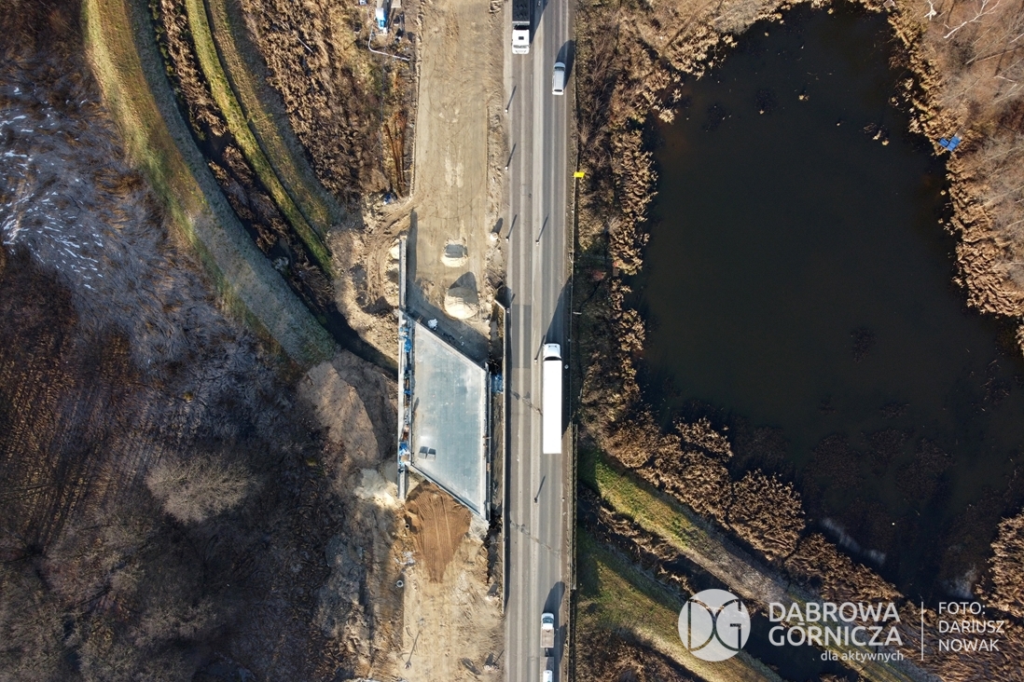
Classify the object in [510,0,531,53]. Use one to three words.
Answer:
truck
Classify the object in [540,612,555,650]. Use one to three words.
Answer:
vehicle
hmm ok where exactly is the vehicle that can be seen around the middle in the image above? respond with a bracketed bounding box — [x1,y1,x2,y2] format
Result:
[543,342,561,460]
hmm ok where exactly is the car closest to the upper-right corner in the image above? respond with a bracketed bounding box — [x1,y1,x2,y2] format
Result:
[552,63,566,95]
